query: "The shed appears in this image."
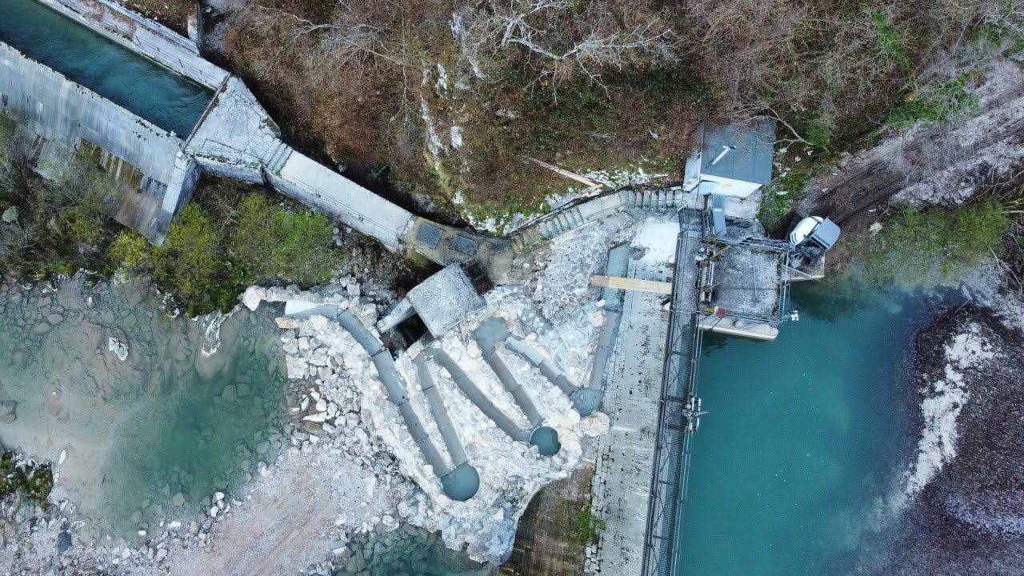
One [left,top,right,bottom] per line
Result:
[678,117,774,198]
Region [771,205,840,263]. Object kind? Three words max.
work vehicle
